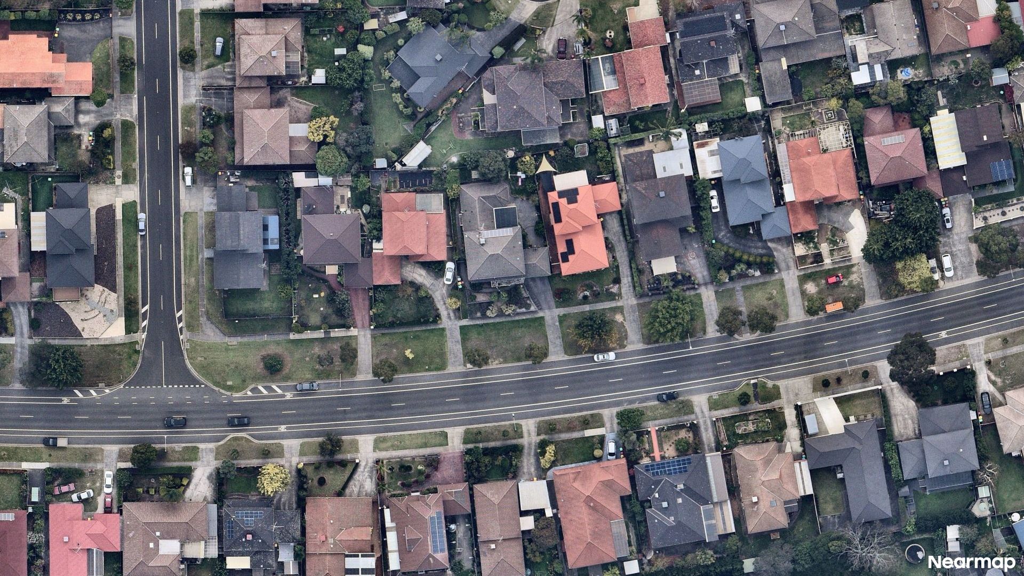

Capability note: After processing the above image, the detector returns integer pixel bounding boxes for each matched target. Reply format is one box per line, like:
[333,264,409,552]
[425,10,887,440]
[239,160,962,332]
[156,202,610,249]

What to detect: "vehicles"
[53,483,75,495]
[607,441,616,459]
[709,189,720,212]
[593,351,616,362]
[557,37,567,60]
[296,381,318,391]
[214,37,223,56]
[228,417,250,426]
[981,392,992,413]
[942,207,952,228]
[164,417,186,427]
[826,274,843,284]
[183,167,192,187]
[444,262,455,284]
[44,437,68,447]
[928,258,939,280]
[137,213,147,235]
[103,494,113,514]
[942,254,953,277]
[656,391,679,402]
[71,489,94,502]
[103,471,113,493]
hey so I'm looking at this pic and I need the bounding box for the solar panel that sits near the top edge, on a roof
[682,16,726,36]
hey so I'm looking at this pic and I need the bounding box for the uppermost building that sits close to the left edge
[0,34,91,96]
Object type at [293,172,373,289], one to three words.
house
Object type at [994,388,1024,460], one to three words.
house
